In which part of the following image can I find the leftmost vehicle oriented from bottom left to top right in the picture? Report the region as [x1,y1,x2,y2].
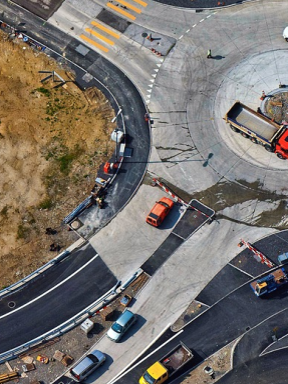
[67,349,109,384]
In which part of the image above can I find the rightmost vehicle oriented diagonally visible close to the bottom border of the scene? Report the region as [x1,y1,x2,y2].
[137,341,196,384]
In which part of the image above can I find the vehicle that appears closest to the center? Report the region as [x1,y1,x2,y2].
[145,195,176,230]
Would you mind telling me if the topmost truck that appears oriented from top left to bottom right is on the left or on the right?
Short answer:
right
